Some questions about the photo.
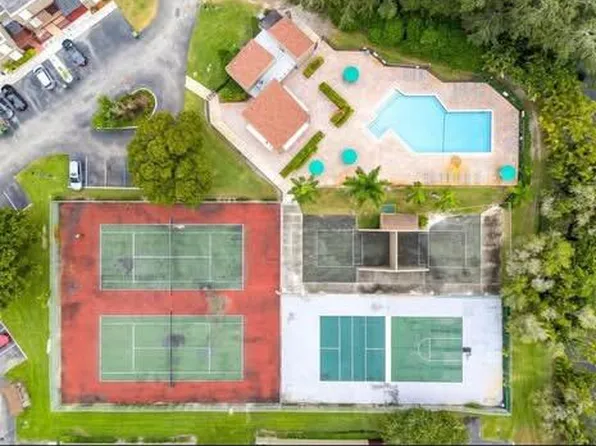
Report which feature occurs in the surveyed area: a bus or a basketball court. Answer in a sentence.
It is a basketball court that can be seen here.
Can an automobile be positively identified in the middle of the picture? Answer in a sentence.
No, no automobile appears in the middle of the picture.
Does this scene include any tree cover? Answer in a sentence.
Yes, the picture does contain tree cover.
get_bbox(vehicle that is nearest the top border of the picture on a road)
[63,38,89,68]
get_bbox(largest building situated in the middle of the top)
[224,17,315,155]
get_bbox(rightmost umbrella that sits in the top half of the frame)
[498,165,515,182]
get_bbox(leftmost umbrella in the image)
[308,160,324,176]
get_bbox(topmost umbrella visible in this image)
[341,66,359,84]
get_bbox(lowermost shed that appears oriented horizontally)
[379,214,417,228]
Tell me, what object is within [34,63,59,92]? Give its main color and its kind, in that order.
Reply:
white car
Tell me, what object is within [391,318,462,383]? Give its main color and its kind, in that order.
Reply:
green basketball court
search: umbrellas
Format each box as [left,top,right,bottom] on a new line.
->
[341,66,359,84]
[340,149,356,166]
[308,160,324,176]
[449,154,460,165]
[498,165,515,182]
